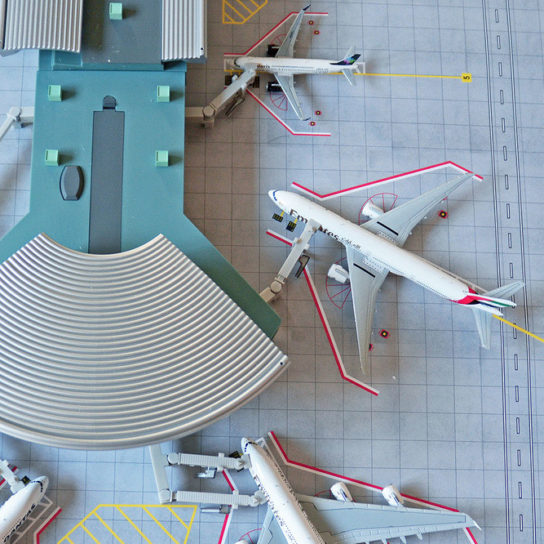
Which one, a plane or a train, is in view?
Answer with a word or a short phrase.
plane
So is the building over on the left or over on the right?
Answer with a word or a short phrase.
left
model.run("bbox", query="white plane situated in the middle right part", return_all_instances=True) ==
[268,170,526,375]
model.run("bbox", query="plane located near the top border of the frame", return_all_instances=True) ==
[231,3,360,119]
